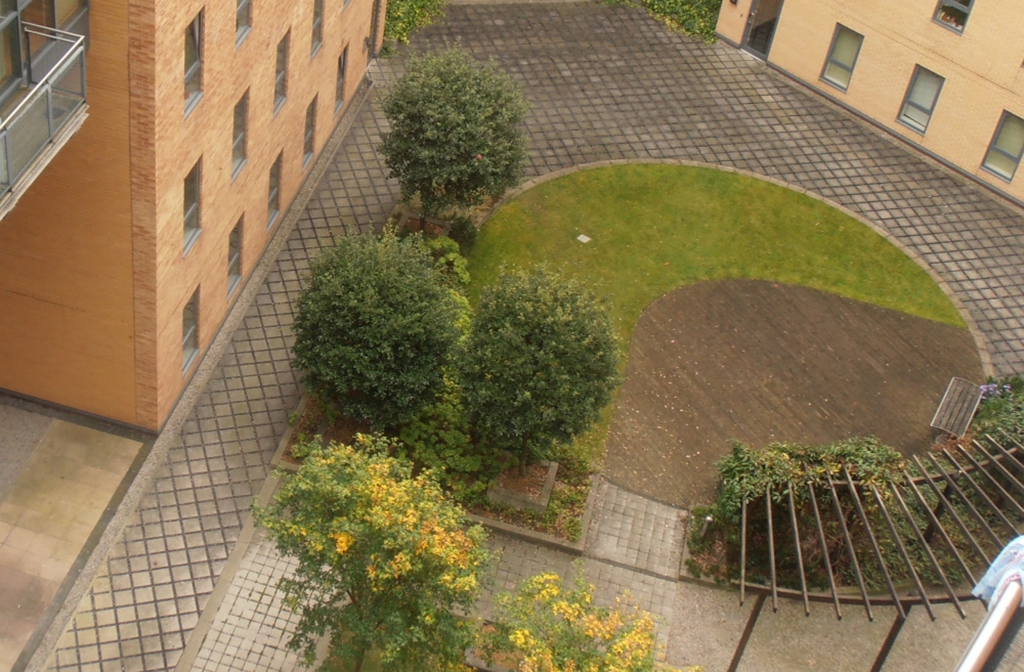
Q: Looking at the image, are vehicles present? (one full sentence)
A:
No, I can't see a single vehicle in this photo.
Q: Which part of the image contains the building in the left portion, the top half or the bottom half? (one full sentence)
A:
You can find the building in the left portion in the top half.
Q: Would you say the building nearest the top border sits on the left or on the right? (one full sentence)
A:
The building nearest the top border is on the right side of the image.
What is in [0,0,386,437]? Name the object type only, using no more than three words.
building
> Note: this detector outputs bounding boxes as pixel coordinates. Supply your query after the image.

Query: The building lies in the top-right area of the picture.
[716,0,1024,210]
